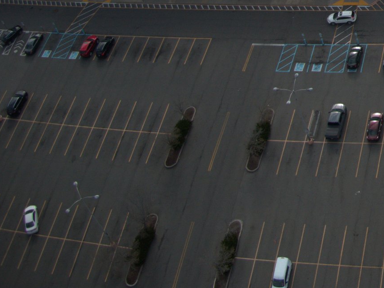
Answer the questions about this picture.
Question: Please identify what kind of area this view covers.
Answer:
parking lot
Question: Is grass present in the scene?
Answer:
No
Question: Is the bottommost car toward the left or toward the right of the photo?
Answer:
right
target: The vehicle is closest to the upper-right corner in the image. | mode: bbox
[325,11,359,27]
